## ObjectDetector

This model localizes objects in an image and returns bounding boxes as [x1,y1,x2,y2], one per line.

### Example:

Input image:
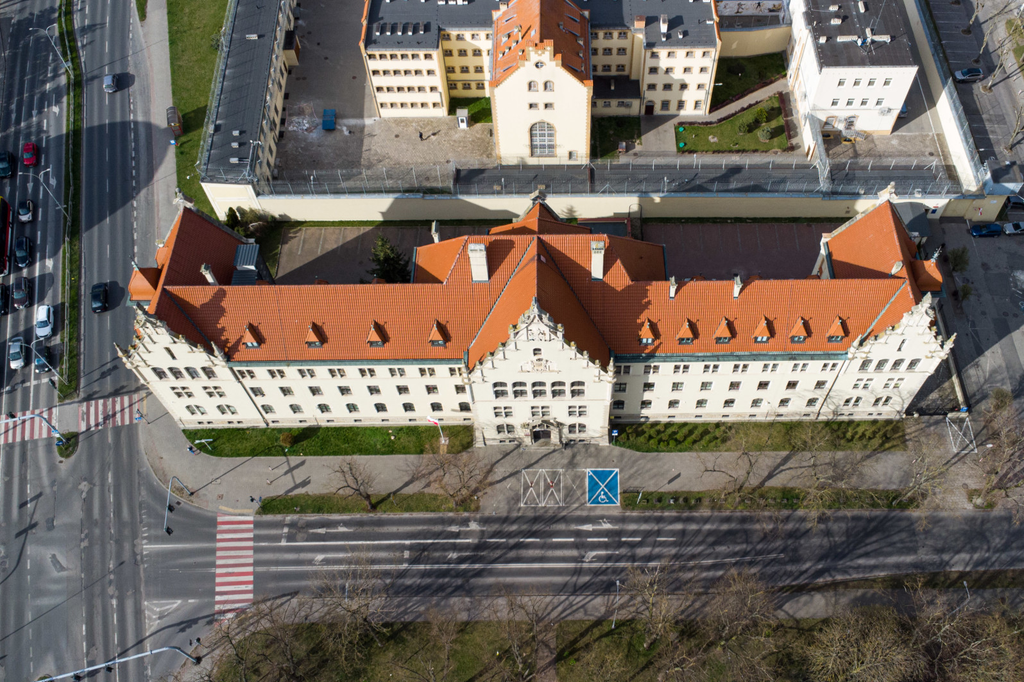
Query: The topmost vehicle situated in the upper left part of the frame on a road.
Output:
[100,70,117,91]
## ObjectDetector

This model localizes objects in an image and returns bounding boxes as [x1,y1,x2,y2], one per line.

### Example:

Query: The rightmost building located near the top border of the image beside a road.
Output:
[772,0,921,145]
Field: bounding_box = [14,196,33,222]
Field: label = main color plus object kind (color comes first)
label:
black car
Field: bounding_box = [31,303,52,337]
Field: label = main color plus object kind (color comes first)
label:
white car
